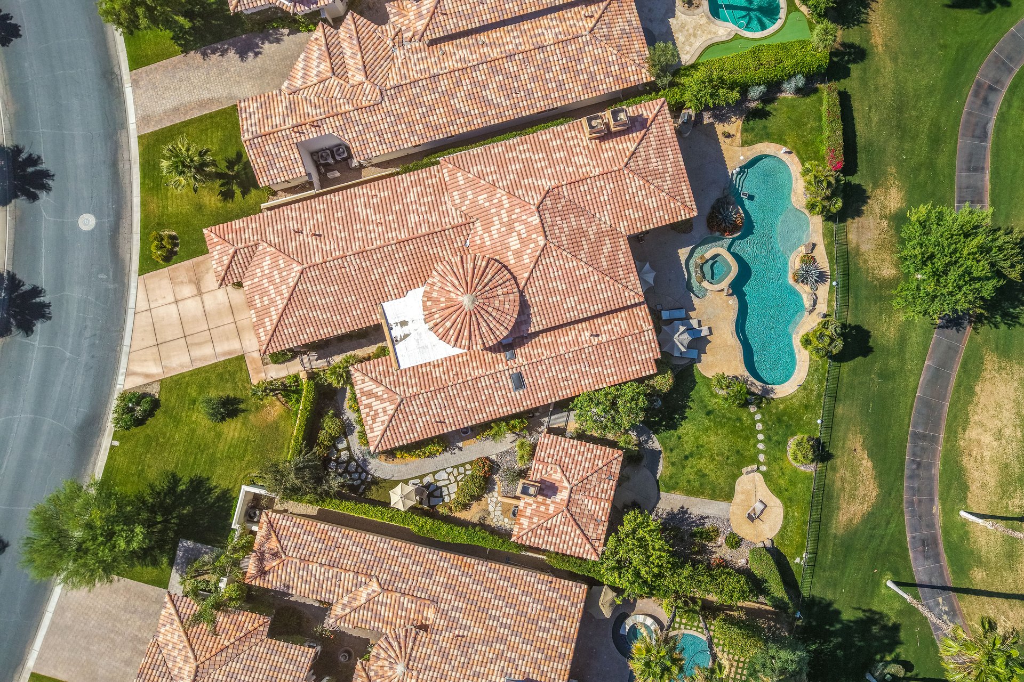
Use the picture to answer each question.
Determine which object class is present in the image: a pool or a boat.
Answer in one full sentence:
The image shows a pool.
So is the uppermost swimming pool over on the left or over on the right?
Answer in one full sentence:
It is on the right.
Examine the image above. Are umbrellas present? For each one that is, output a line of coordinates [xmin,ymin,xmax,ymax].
[657,321,694,357]
[391,482,416,511]
[585,587,620,620]
[635,259,657,291]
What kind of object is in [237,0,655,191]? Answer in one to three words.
house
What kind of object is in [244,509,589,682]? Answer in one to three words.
house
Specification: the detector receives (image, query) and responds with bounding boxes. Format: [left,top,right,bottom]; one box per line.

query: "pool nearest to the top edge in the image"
[690,0,788,64]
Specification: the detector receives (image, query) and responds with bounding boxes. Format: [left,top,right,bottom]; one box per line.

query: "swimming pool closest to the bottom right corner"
[654,628,716,682]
